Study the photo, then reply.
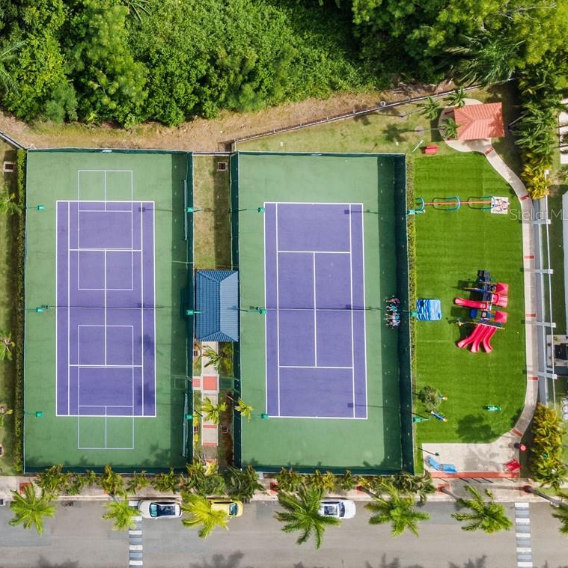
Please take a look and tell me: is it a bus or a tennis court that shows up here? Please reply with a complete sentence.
It is a tennis court that can be seen here.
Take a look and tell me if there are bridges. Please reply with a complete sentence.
No, the photo shows no bridge.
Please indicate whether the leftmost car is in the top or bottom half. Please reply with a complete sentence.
It is in the bottom half that the leftmost car appears.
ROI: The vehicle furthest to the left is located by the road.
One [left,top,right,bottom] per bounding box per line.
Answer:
[138,498,181,520]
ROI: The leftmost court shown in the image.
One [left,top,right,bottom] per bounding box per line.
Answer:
[23,153,186,469]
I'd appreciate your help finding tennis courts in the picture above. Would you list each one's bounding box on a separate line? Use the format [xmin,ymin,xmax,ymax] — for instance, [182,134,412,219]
[23,153,186,469]
[230,155,402,469]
